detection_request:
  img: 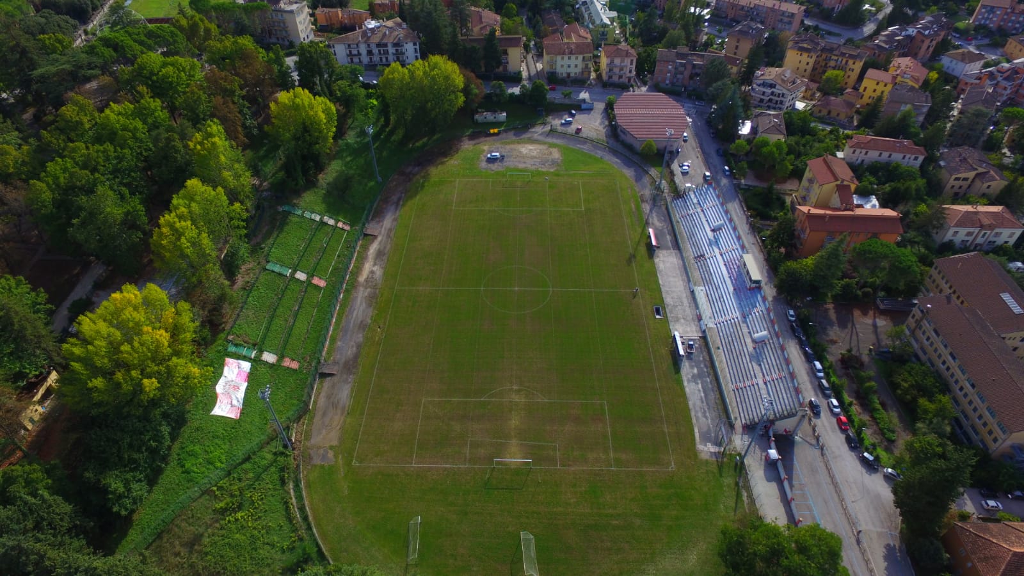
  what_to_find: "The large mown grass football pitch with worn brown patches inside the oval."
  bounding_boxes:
[298,122,755,576]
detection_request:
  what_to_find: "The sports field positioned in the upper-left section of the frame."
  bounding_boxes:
[125,0,215,29]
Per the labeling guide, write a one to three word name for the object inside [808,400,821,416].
vehicle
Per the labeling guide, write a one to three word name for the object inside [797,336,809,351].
vehicle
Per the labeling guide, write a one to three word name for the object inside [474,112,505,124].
building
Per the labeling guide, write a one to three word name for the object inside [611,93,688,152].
building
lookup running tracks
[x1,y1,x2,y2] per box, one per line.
[312,123,665,464]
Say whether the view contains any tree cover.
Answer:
Yes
